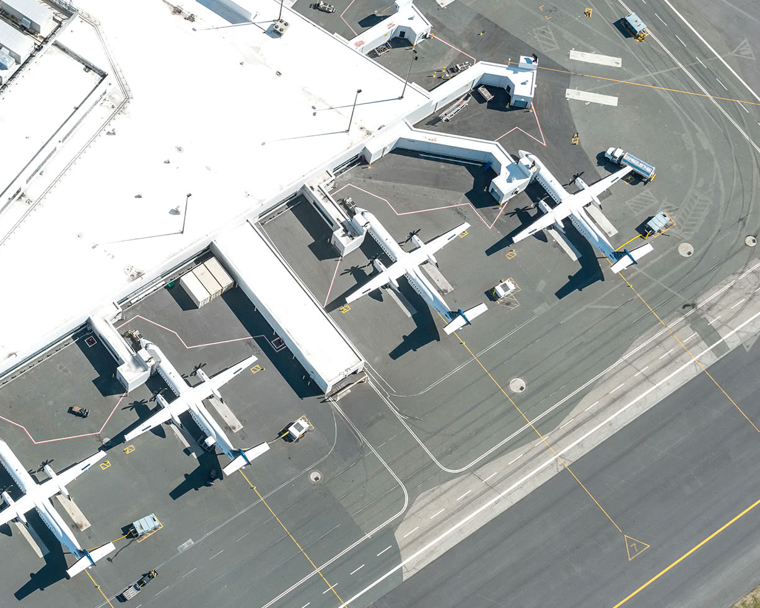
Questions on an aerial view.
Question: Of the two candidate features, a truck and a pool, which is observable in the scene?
truck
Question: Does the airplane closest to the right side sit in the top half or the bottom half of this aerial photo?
top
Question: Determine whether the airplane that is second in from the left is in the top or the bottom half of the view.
bottom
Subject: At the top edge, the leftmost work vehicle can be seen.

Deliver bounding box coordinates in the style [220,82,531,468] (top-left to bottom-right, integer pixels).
[315,0,335,14]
